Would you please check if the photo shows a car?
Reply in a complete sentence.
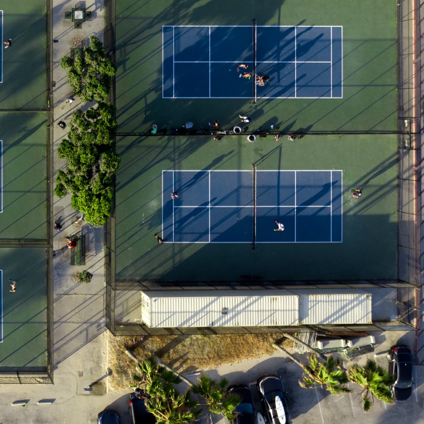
Yes, this view includes a car.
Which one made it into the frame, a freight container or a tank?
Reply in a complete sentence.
Looking from above, you can make out a freight container.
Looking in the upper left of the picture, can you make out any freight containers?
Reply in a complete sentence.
No, the scene shows no freight container in the upper left of the picture.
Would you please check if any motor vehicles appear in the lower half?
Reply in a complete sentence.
Yes, looking in the lower half, one can make out a motor vehicle.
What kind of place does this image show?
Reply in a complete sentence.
It's a sports ground.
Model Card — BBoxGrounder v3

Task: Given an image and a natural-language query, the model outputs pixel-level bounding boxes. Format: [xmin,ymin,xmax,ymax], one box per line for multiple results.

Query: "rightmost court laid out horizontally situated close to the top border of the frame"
[108,0,396,133]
